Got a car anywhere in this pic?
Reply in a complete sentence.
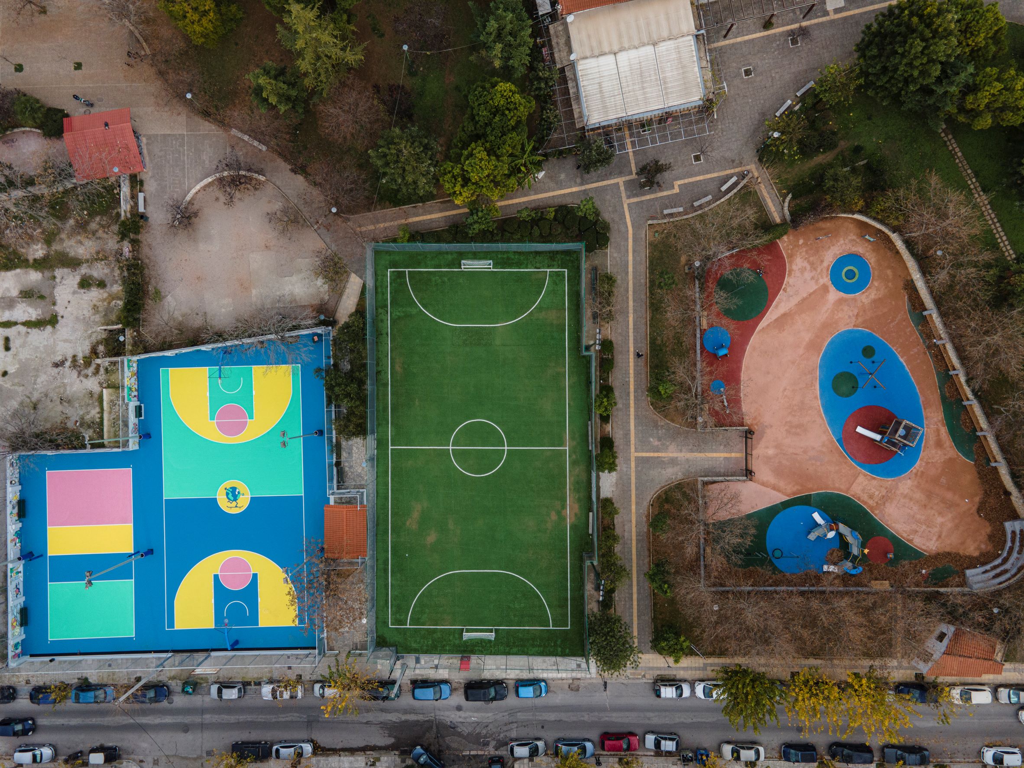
Yes, the image includes a car.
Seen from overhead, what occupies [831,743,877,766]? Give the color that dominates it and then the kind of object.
black car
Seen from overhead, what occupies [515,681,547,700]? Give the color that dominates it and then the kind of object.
blue car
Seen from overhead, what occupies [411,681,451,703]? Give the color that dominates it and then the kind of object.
blue car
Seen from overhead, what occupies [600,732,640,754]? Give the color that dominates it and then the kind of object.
red car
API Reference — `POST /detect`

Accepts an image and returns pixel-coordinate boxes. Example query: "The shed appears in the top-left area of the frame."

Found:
[63,107,151,184]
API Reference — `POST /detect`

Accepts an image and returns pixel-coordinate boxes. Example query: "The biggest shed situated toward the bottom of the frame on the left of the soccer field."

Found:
[324,503,370,559]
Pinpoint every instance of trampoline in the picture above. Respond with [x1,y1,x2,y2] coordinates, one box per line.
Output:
[843,267,859,283]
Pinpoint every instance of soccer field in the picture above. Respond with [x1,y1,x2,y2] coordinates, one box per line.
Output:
[374,251,593,656]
